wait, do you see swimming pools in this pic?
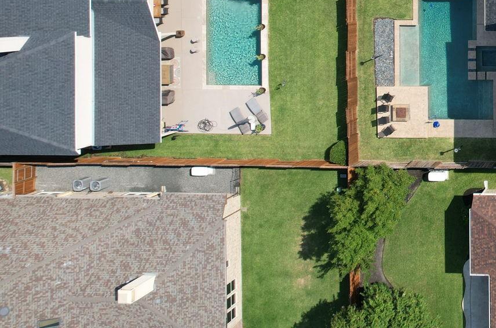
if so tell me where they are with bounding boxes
[400,0,496,119]
[203,0,269,89]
